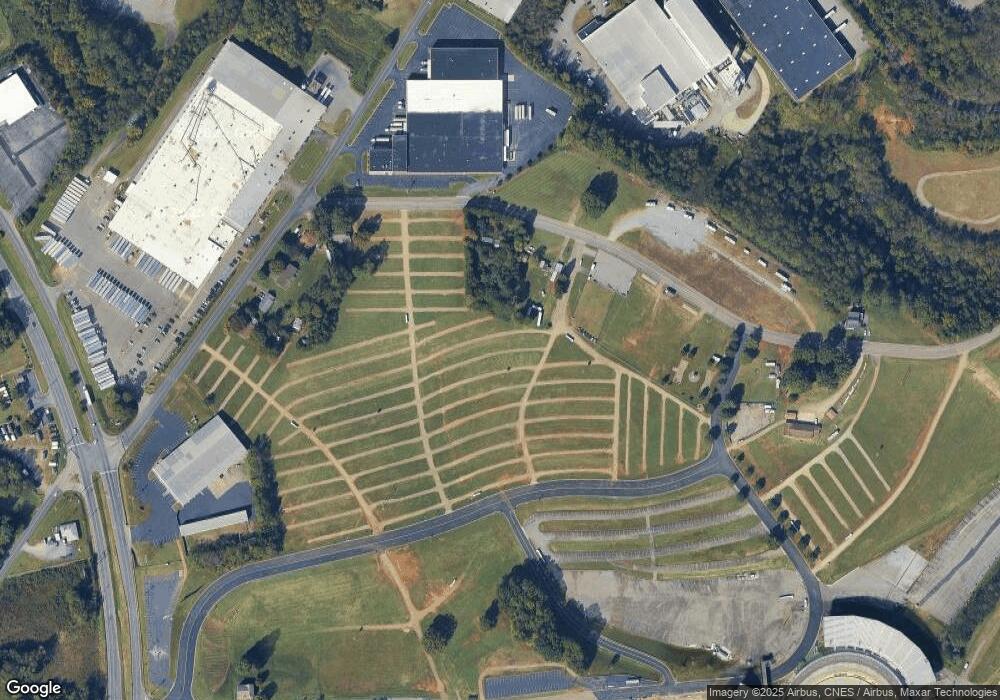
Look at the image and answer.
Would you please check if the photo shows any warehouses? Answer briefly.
Yes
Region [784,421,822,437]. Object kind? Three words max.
barn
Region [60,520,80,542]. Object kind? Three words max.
house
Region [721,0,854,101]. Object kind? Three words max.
building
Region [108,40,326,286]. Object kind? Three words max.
warehouse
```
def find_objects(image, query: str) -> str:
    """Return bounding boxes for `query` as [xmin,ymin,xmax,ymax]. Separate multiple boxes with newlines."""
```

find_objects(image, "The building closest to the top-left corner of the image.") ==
[0,73,38,125]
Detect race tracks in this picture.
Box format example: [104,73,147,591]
[789,649,903,700]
